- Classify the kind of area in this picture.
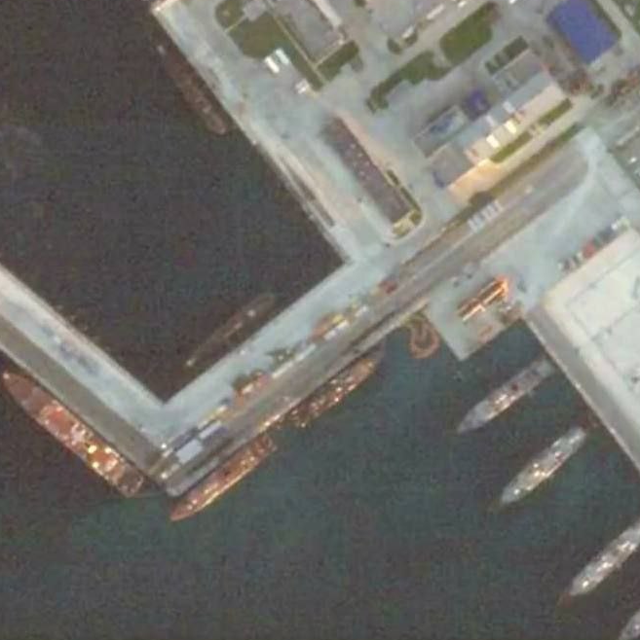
port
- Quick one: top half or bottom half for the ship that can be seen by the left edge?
bottom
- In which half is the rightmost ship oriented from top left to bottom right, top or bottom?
top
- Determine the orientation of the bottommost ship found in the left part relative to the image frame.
on a diagonal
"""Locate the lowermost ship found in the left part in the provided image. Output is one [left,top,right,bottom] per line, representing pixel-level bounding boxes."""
[171,437,281,521]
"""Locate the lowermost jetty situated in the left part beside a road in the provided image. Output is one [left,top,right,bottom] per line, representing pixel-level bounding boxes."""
[0,262,426,496]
